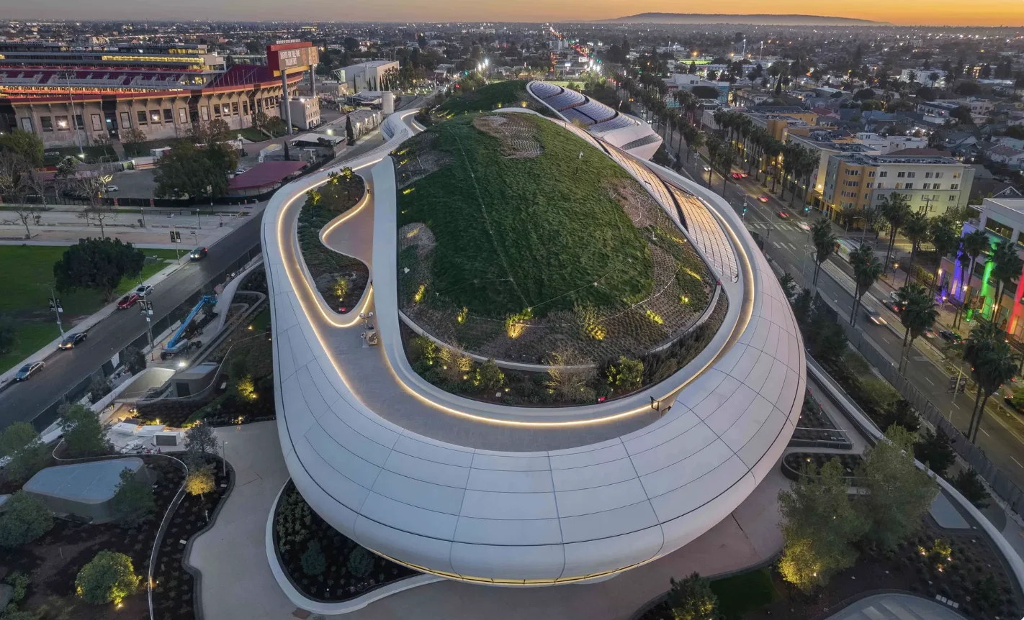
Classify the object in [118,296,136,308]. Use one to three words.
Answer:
vehicle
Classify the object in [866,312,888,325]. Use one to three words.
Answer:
vehicle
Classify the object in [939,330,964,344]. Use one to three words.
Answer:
car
